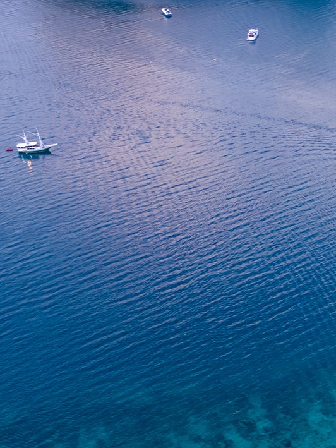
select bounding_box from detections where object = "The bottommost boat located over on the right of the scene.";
[244,25,259,41]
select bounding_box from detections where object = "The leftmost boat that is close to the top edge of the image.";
[161,5,176,18]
